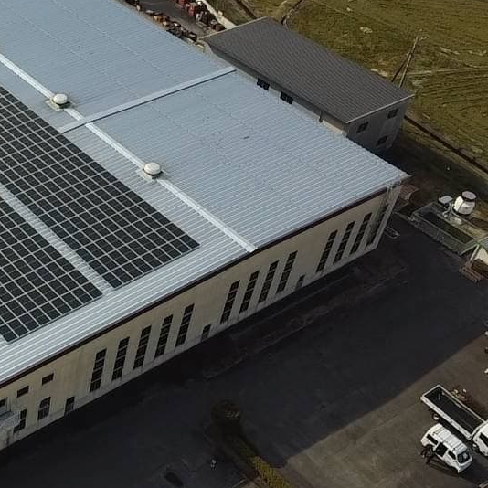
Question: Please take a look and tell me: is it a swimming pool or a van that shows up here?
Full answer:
Of the two, only a van appears.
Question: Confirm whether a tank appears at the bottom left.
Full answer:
No, looking at the bottom left, there is no tank.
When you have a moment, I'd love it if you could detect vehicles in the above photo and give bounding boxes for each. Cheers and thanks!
[417,421,475,474]
[417,384,488,461]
